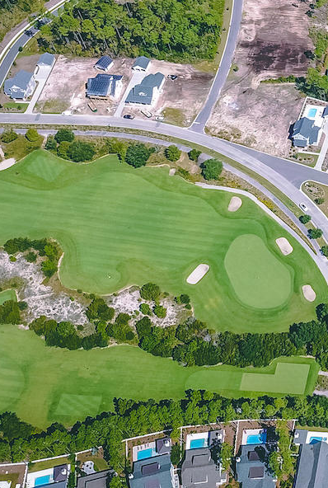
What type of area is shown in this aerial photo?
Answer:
golf course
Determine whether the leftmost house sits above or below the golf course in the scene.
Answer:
above it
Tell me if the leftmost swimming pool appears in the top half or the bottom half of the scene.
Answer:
bottom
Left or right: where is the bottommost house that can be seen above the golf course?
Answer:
right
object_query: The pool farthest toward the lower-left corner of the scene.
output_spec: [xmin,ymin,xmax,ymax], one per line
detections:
[27,467,67,488]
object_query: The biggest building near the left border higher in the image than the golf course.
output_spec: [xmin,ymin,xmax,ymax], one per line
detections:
[1,67,38,101]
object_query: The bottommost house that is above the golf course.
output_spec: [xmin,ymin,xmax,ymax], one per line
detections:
[293,116,320,148]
